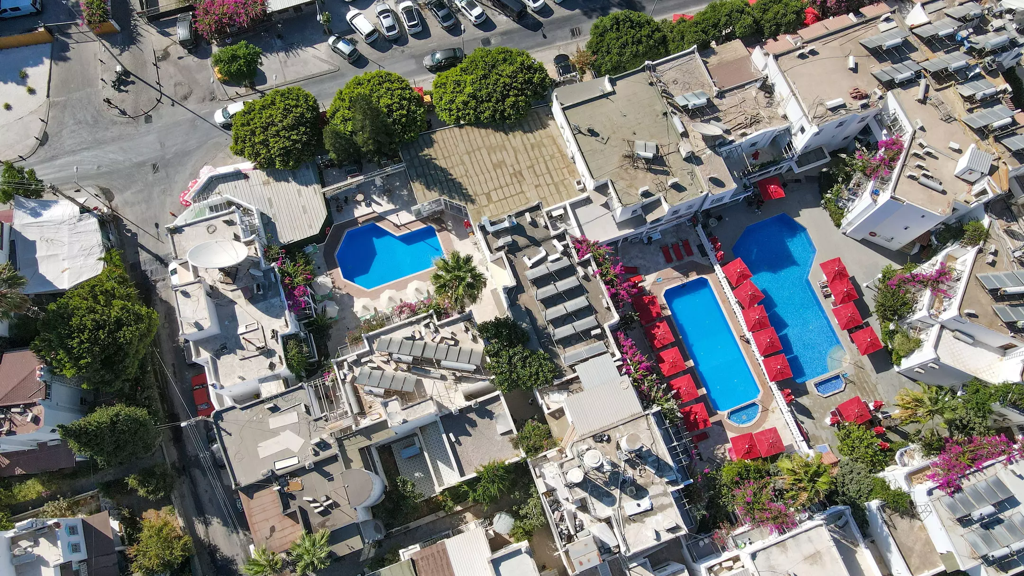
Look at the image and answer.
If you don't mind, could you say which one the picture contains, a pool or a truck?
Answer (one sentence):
The one in the frame is a pool.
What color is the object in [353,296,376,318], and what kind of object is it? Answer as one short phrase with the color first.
white umbrella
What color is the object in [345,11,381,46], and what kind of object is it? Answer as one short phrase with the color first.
white car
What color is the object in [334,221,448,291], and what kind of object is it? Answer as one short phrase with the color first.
blue swimming pool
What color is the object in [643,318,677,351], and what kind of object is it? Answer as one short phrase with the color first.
red umbrella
